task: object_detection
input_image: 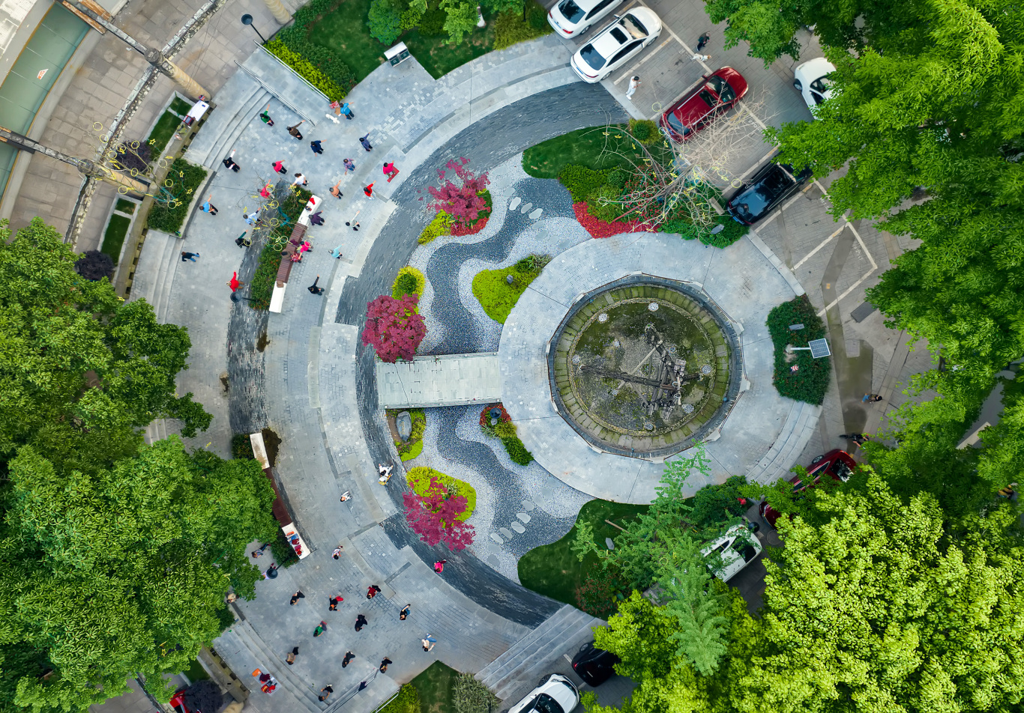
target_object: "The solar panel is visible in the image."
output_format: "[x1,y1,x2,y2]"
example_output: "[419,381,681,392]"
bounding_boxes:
[807,337,831,359]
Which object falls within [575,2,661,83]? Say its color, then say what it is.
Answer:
white car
